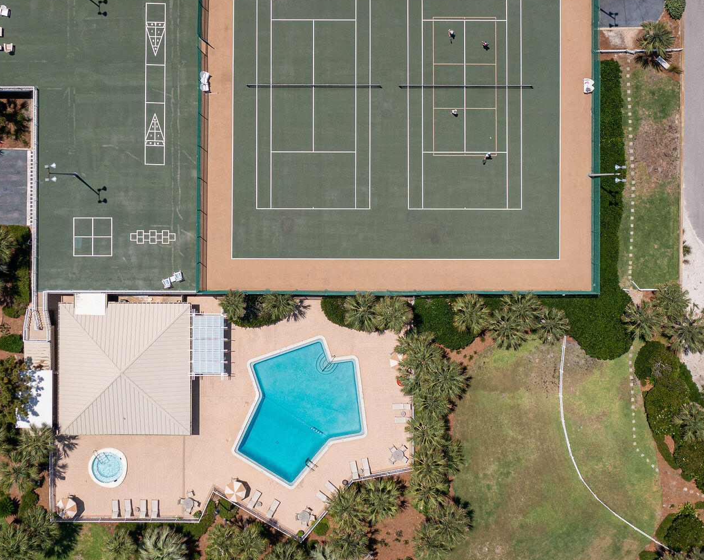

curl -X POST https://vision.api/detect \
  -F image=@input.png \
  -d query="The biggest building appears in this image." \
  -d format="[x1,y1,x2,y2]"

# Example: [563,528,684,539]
[58,296,193,435]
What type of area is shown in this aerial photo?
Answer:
sports ground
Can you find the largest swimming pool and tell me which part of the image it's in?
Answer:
bottom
